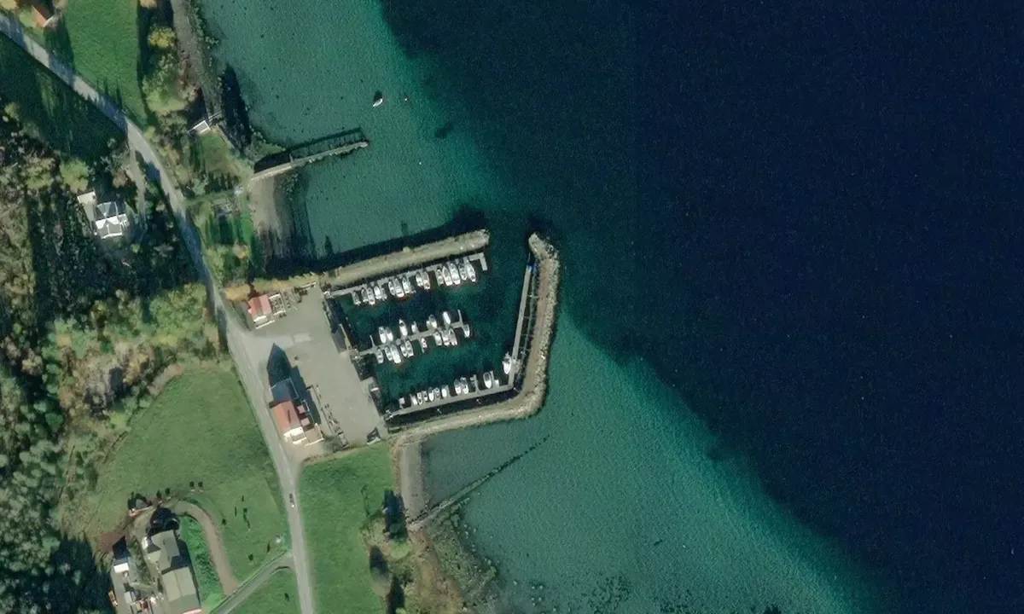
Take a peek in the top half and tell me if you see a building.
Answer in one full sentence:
Yes, in the top half there is a building.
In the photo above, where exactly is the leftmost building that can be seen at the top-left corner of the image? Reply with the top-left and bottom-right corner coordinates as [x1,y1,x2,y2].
[24,0,54,30]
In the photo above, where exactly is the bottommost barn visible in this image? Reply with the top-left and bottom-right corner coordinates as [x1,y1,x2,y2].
[163,568,199,614]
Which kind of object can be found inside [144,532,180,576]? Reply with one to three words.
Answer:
barn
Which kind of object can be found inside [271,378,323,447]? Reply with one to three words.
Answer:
building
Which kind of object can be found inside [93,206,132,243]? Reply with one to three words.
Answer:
house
